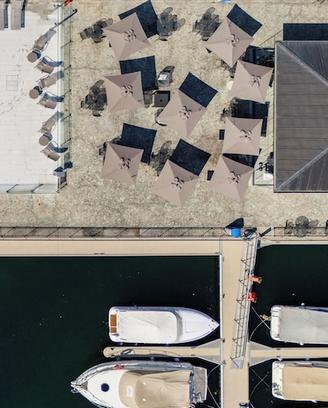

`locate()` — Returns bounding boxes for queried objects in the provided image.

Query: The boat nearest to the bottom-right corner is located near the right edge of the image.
[250,357,328,408]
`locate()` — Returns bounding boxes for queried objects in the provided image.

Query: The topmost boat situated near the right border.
[248,299,328,345]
